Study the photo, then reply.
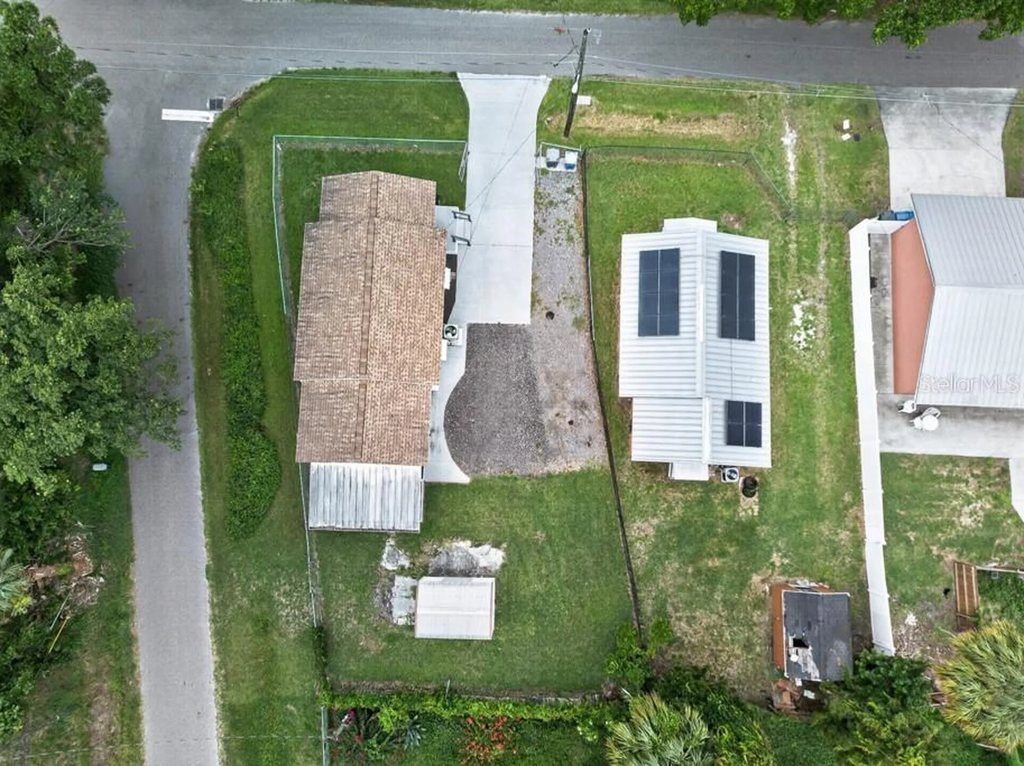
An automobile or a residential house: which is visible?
residential house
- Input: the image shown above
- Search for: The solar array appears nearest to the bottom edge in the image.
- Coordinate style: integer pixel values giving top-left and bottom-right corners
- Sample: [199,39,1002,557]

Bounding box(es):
[728,401,763,448]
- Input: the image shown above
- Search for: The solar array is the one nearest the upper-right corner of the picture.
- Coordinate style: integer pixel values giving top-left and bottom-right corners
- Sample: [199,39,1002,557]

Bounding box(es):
[721,250,756,341]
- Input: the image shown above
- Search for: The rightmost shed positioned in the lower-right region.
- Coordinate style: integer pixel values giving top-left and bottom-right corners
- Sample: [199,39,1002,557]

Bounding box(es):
[773,585,853,682]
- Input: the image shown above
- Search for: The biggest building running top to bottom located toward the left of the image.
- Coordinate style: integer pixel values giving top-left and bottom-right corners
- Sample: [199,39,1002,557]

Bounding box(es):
[293,170,452,534]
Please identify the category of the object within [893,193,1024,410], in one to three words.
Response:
house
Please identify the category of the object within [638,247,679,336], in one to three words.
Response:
solar array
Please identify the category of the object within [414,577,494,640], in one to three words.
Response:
shed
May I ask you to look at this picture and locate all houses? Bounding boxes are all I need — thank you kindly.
[893,193,1024,410]
[293,170,452,534]
[616,216,772,481]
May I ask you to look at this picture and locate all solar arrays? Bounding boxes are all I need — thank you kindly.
[728,401,763,448]
[638,247,679,336]
[721,250,756,341]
